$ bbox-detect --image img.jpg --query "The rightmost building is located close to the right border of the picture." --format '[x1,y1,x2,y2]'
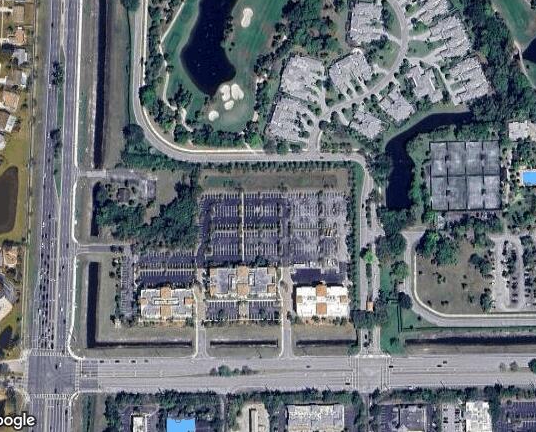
[508,122,536,141]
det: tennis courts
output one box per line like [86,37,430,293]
[466,177,481,208]
[483,142,499,174]
[448,177,463,208]
[431,142,445,174]
[483,177,499,208]
[466,142,481,174]
[448,142,463,174]
[431,177,445,208]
